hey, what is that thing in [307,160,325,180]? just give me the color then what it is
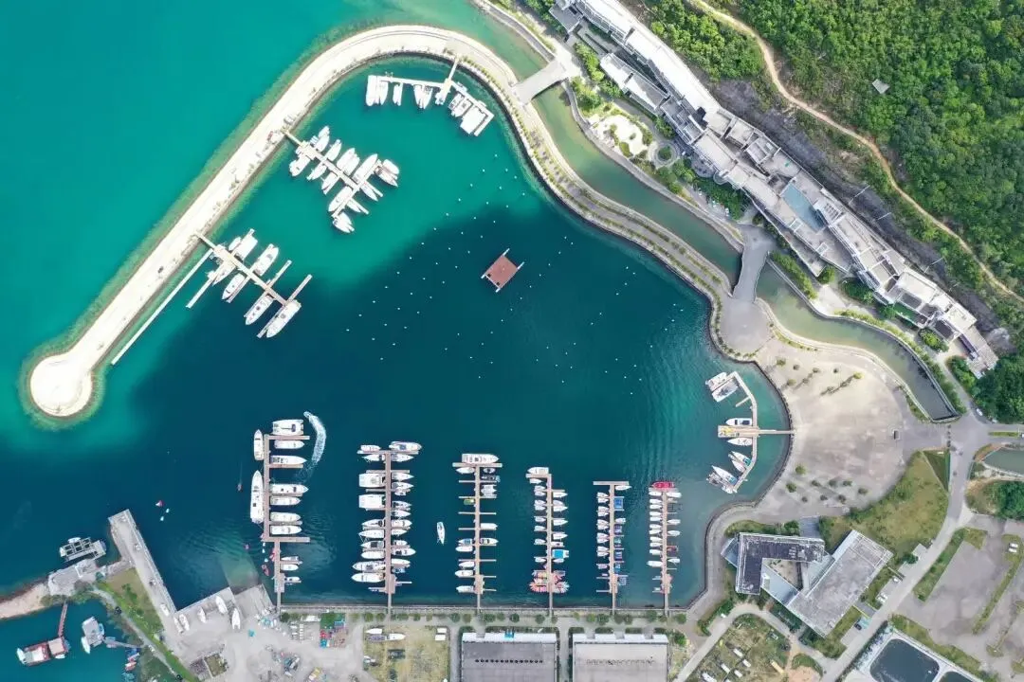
white boat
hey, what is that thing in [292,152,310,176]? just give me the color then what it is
white boat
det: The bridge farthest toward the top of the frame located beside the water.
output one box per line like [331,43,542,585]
[509,55,569,107]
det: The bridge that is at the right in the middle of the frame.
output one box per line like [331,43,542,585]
[725,241,776,307]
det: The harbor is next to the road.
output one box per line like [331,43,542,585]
[126,65,794,612]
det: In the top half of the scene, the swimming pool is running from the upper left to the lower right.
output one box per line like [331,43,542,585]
[780,183,826,235]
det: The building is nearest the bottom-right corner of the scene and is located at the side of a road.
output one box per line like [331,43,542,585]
[785,526,894,639]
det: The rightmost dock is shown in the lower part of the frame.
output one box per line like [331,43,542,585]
[709,371,790,493]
